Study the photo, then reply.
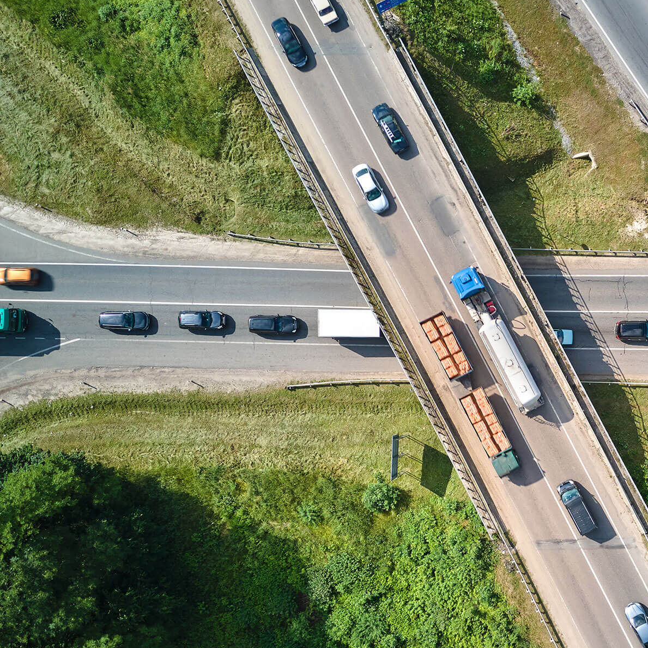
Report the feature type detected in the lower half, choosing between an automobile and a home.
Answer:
automobile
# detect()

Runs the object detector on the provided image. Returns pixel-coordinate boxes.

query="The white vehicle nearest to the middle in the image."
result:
[317,309,384,337]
